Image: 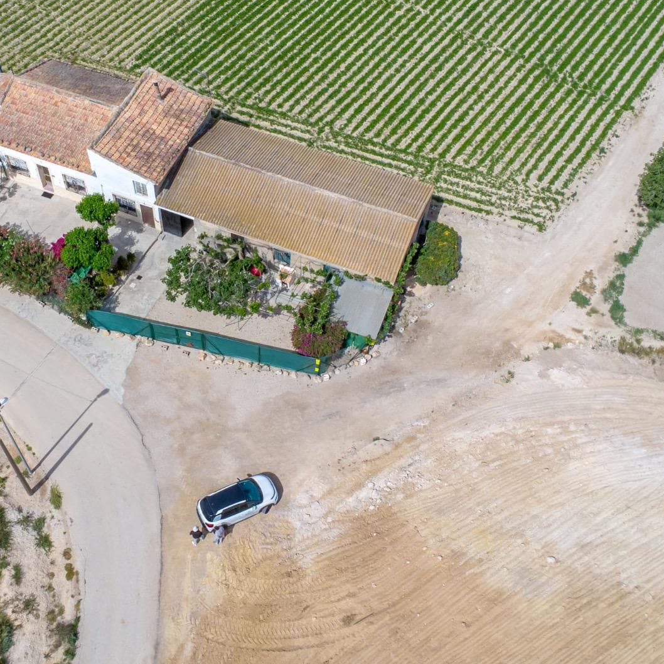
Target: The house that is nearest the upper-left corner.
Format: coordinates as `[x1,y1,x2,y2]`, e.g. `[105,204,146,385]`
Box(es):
[0,55,211,232]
